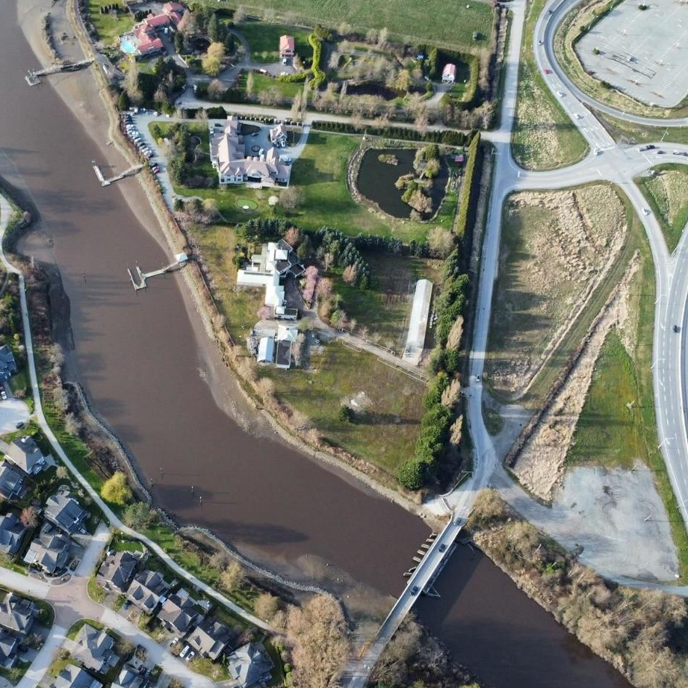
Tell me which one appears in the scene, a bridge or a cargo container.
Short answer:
bridge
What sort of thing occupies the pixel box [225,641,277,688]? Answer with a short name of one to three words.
house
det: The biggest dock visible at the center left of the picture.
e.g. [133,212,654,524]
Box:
[126,252,189,291]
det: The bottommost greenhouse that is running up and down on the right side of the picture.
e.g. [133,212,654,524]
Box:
[403,282,431,362]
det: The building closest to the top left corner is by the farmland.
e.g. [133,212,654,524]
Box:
[131,0,188,61]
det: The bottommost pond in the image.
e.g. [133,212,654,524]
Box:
[350,144,456,224]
